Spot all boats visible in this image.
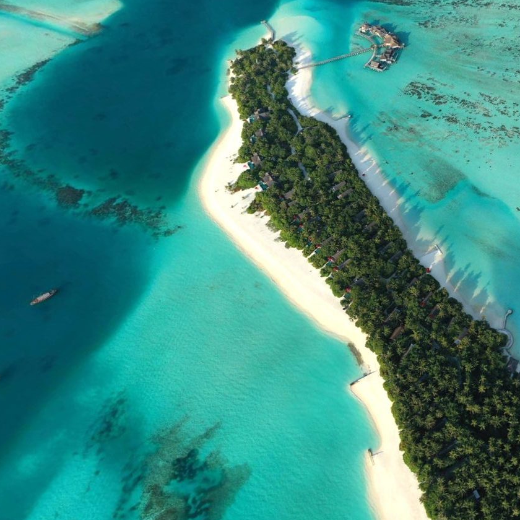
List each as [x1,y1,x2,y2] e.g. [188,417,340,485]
[29,289,56,304]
